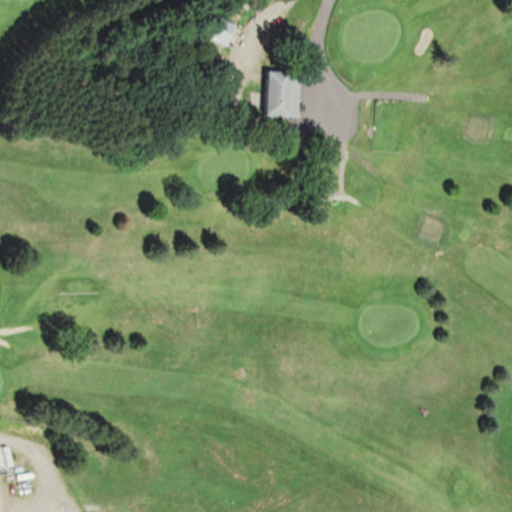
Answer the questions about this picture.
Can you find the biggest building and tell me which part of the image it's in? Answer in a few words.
top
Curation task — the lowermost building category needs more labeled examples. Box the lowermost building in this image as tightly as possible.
[267,71,300,119]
